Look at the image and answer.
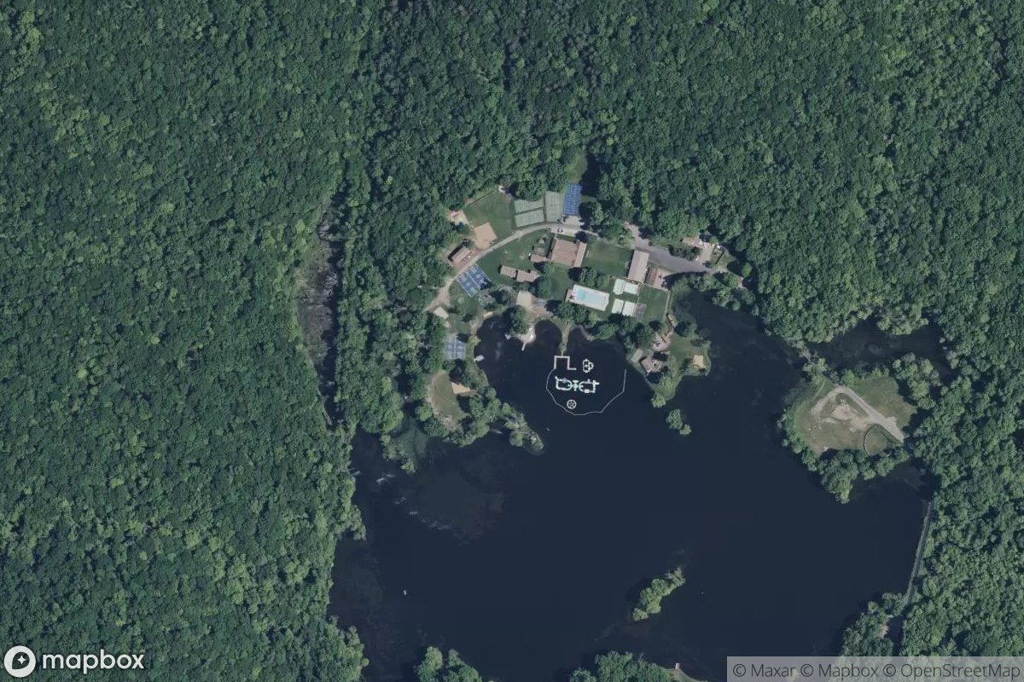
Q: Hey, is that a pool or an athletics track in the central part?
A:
pool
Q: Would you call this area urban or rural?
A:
rural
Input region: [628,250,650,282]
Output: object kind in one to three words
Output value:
building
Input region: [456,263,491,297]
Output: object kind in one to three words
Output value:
basketball court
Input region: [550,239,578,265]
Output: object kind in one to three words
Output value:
building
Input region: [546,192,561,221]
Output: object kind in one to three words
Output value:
tennis court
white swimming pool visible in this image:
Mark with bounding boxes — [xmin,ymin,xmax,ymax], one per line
[571,285,609,311]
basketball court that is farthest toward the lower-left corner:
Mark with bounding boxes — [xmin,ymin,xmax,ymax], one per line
[446,333,466,359]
